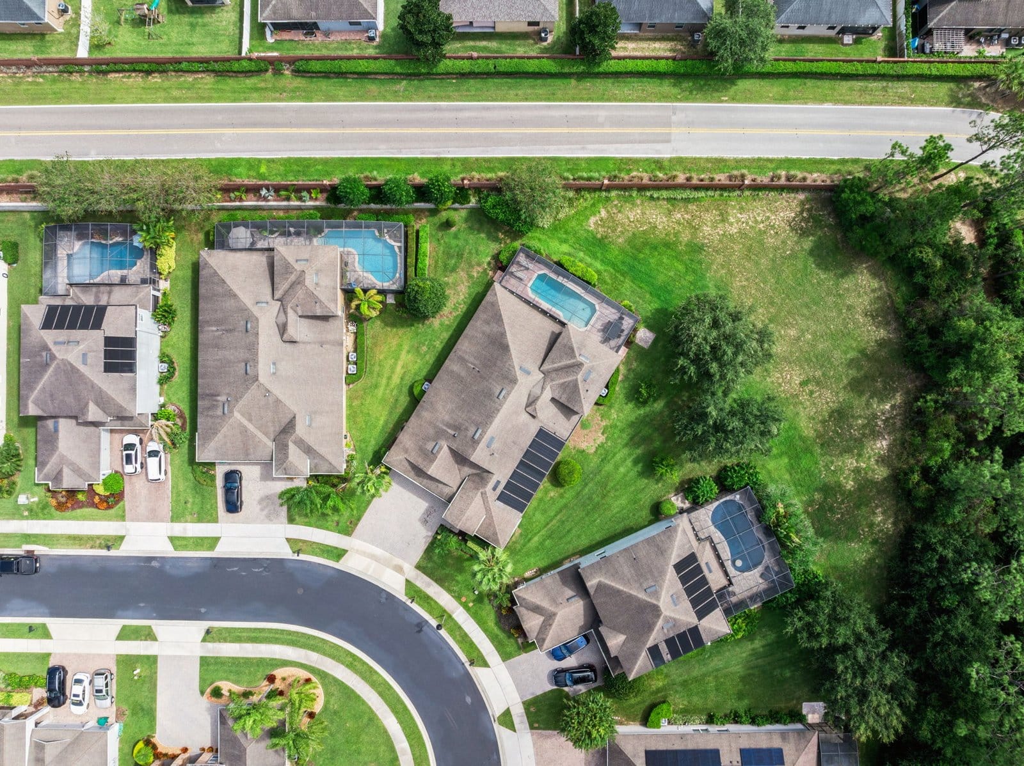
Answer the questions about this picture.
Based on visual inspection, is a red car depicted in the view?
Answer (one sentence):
No, there appears to be no red car in this shot.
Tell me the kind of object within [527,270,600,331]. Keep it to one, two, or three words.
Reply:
swimming pool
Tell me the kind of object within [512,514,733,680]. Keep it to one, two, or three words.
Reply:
house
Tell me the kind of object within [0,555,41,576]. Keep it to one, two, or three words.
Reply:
truck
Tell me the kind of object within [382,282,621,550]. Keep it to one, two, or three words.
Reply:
house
